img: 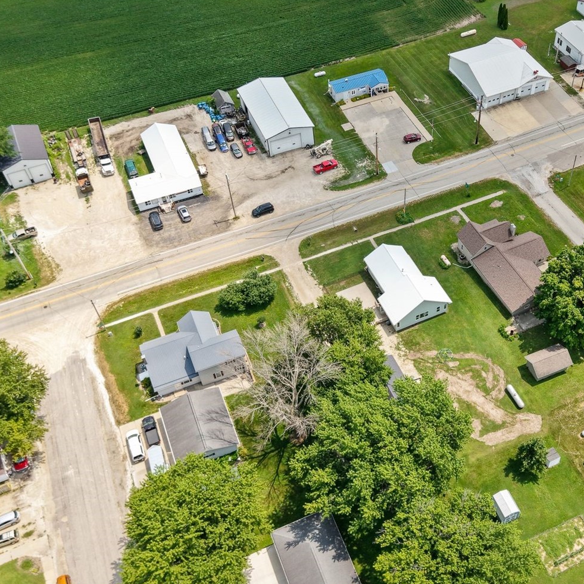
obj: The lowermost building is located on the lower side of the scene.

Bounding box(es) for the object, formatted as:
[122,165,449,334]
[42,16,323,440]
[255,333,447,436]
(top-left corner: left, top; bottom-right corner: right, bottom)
[273,510,364,584]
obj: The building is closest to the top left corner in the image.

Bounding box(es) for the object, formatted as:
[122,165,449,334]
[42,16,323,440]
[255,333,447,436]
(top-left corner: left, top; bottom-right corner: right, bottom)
[0,122,52,181]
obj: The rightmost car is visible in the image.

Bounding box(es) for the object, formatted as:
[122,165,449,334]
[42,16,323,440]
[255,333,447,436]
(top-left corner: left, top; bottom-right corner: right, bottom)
[402,132,423,145]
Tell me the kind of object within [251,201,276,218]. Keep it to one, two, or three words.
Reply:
car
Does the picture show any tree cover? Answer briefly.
Yes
